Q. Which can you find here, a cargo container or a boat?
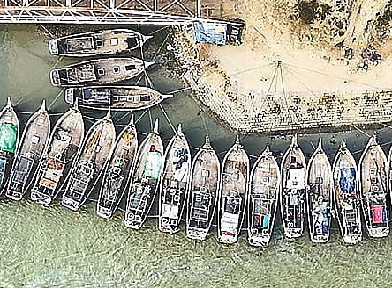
boat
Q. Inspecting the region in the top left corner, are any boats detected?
Yes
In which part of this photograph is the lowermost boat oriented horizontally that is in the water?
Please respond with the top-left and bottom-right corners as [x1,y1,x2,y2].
[67,85,173,110]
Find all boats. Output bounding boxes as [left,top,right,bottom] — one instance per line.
[32,98,82,205]
[216,136,249,246]
[6,100,49,200]
[52,57,155,89]
[186,135,218,241]
[332,140,362,245]
[67,85,173,110]
[279,134,306,238]
[96,115,138,219]
[305,138,332,245]
[159,124,190,234]
[0,97,19,199]
[62,109,113,211]
[50,31,152,59]
[359,132,390,238]
[124,119,162,230]
[246,145,280,247]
